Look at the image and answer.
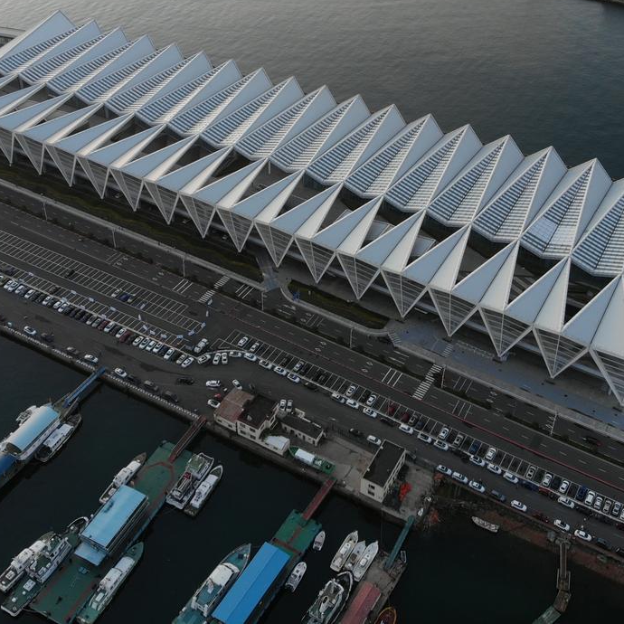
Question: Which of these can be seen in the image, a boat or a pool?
boat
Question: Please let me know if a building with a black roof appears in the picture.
Yes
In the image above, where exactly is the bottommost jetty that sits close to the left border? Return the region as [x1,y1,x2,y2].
[29,440,193,624]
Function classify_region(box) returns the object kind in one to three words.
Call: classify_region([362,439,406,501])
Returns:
building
